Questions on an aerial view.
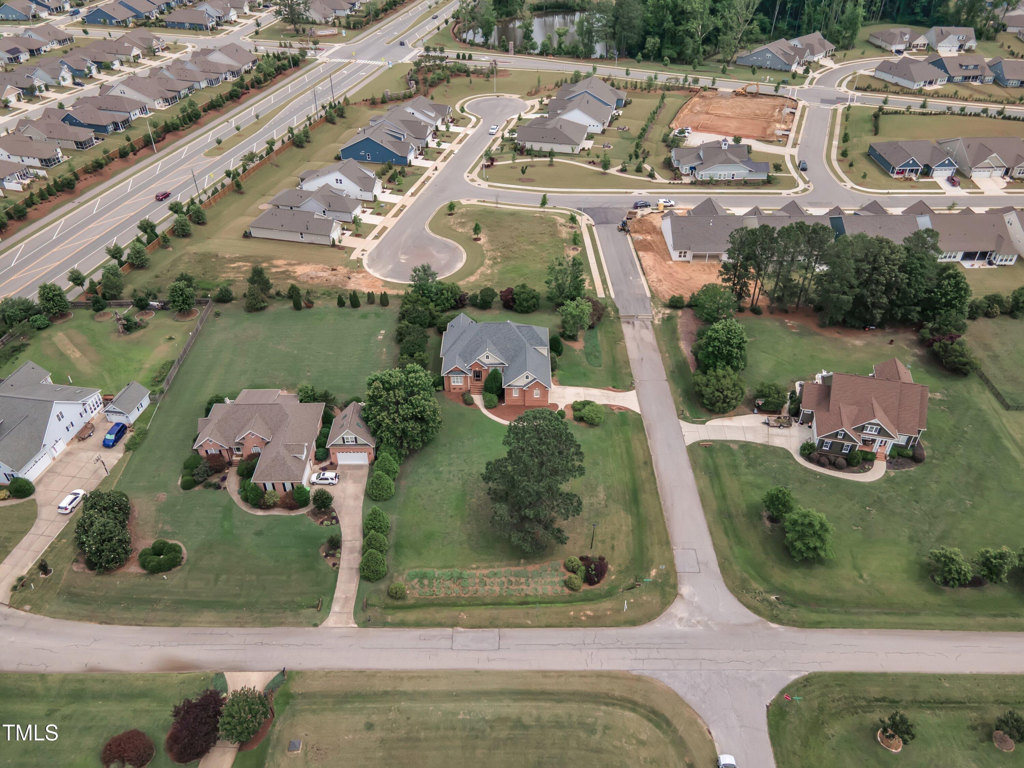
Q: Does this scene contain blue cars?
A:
Yes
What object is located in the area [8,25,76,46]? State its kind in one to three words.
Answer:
house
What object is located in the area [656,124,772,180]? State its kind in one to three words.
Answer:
building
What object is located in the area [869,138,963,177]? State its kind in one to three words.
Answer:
house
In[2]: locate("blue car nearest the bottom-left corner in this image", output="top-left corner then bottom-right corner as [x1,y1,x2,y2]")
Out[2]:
[100,419,130,447]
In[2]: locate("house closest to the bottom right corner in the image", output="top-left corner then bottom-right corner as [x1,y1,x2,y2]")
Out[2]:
[796,356,933,462]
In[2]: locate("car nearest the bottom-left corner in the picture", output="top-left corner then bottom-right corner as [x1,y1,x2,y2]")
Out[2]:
[53,490,90,516]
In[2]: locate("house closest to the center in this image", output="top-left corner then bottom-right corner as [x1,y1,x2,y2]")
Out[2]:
[439,313,552,407]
